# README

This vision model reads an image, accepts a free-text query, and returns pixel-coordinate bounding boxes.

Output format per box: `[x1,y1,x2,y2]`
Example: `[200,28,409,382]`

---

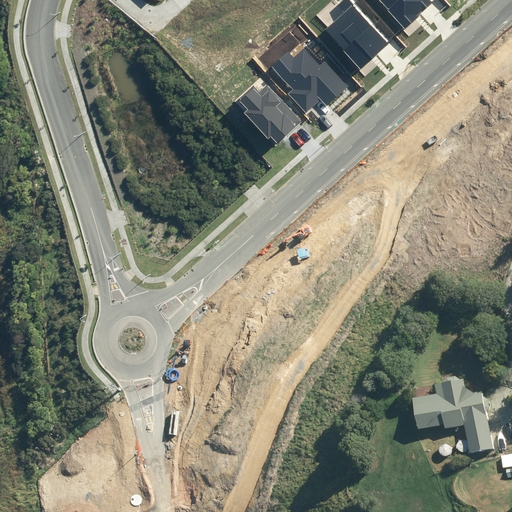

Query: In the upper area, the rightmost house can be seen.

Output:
[378,0,432,36]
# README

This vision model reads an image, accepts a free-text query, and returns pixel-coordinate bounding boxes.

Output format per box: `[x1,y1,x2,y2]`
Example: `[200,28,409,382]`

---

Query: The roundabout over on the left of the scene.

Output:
[108,316,157,365]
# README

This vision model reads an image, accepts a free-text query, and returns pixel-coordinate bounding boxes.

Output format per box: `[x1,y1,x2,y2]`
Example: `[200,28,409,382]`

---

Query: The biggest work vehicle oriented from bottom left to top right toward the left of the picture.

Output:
[174,338,194,357]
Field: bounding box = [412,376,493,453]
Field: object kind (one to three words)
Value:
house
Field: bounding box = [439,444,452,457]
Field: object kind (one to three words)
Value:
umbrella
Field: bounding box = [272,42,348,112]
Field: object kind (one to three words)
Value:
house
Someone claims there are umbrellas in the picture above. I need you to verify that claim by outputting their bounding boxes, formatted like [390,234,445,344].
[456,441,466,453]
[439,444,452,457]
